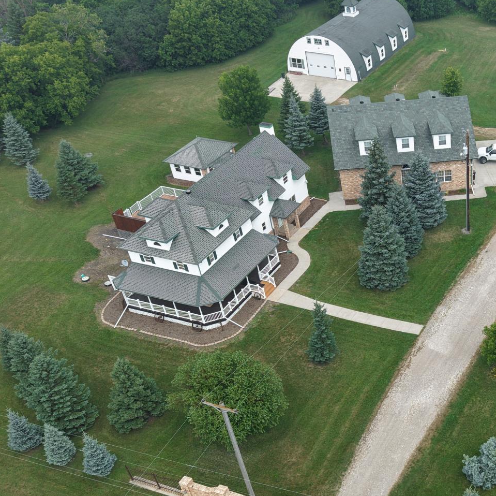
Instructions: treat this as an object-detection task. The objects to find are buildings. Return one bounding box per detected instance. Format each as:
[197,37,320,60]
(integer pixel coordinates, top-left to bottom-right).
[286,0,413,83]
[328,90,479,200]
[113,119,324,330]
